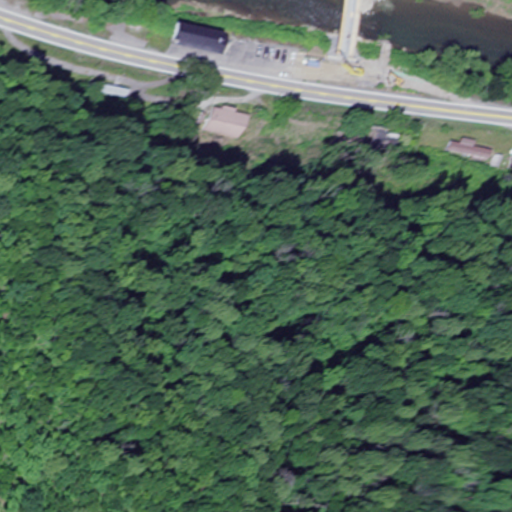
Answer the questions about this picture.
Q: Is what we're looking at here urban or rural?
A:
rural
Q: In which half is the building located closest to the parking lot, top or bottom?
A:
top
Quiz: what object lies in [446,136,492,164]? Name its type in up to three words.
house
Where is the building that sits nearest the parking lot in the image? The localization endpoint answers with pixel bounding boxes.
[174,19,228,54]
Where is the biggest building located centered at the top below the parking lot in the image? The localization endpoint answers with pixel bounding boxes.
[201,103,246,140]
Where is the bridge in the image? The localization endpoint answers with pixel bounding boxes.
[334,0,359,60]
